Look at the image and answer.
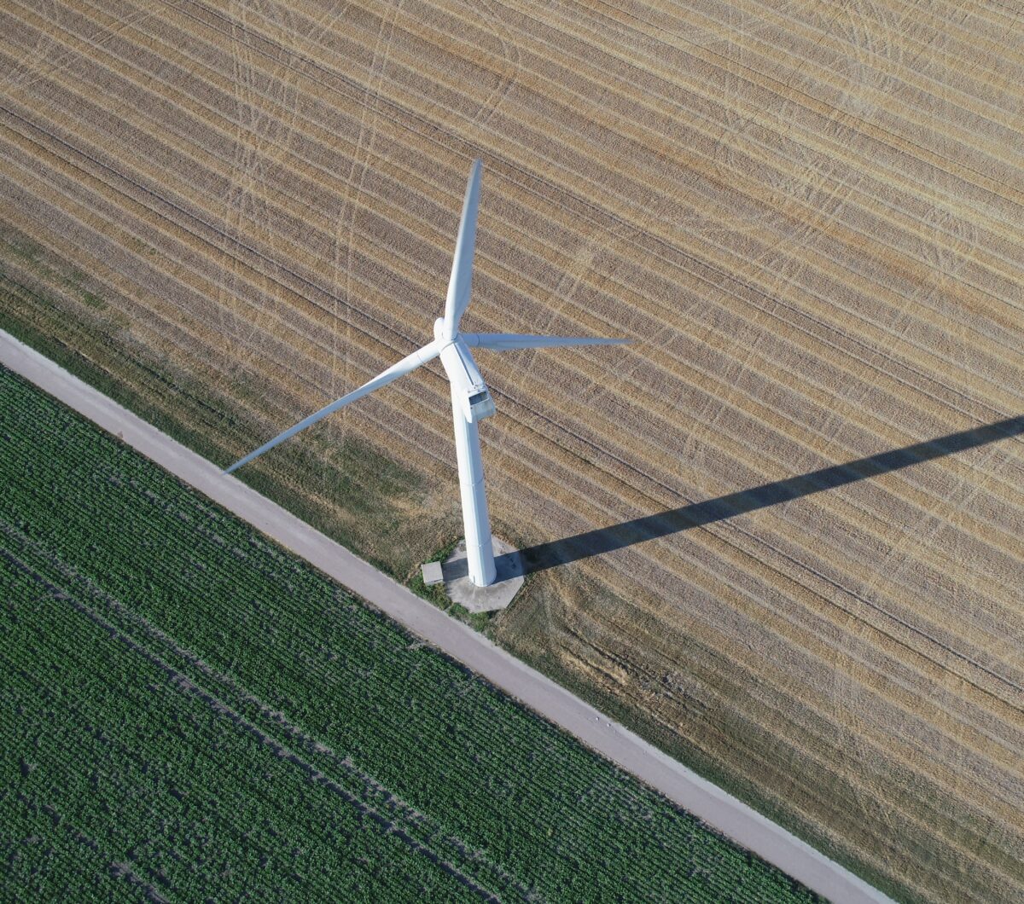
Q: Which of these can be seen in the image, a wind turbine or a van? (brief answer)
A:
wind turbine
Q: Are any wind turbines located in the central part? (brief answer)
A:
Yes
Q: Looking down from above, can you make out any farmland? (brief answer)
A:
Yes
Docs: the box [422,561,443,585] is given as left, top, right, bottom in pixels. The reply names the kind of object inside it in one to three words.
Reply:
building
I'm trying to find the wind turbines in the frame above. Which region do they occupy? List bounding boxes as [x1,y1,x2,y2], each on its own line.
[226,160,632,588]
